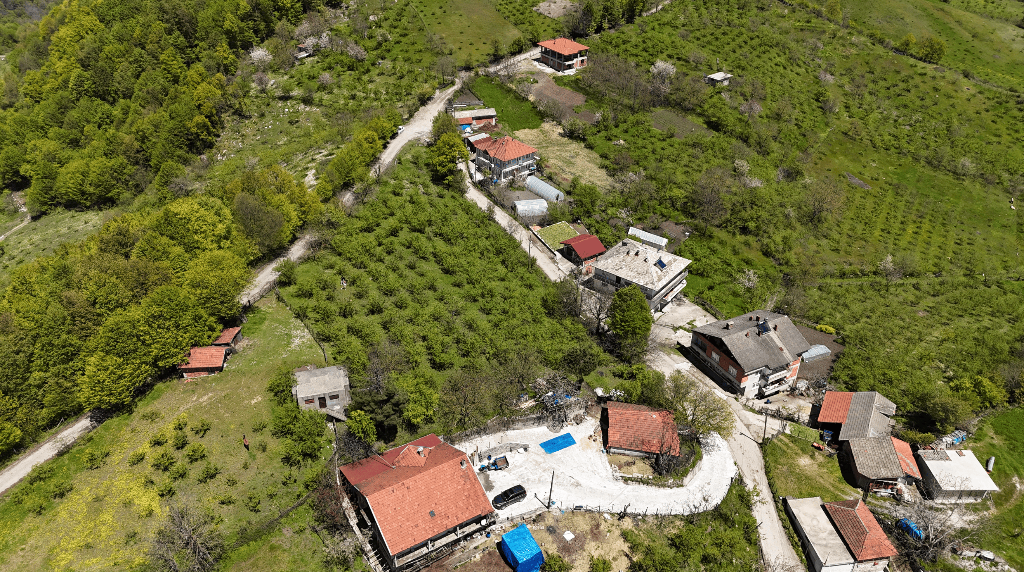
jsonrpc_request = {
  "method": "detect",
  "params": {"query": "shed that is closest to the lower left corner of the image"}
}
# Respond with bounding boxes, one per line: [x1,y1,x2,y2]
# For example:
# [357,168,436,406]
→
[181,343,232,378]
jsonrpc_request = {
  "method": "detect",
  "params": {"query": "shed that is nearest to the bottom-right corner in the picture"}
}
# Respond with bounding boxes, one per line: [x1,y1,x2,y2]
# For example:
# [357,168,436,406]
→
[917,451,999,504]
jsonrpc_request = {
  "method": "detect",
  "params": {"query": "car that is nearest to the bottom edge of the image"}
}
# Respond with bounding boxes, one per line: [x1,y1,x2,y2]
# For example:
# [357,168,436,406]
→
[492,483,528,509]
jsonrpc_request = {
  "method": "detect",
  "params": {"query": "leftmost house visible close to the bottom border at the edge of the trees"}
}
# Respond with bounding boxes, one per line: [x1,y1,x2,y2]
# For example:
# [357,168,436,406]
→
[339,433,496,572]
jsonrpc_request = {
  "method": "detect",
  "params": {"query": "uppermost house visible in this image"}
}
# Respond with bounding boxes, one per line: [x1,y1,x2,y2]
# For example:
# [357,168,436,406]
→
[537,33,589,74]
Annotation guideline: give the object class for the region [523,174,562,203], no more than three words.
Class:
greenhouse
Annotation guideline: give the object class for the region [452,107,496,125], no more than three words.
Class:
shed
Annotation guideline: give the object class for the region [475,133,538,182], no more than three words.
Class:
house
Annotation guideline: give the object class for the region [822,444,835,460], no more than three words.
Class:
vehicle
